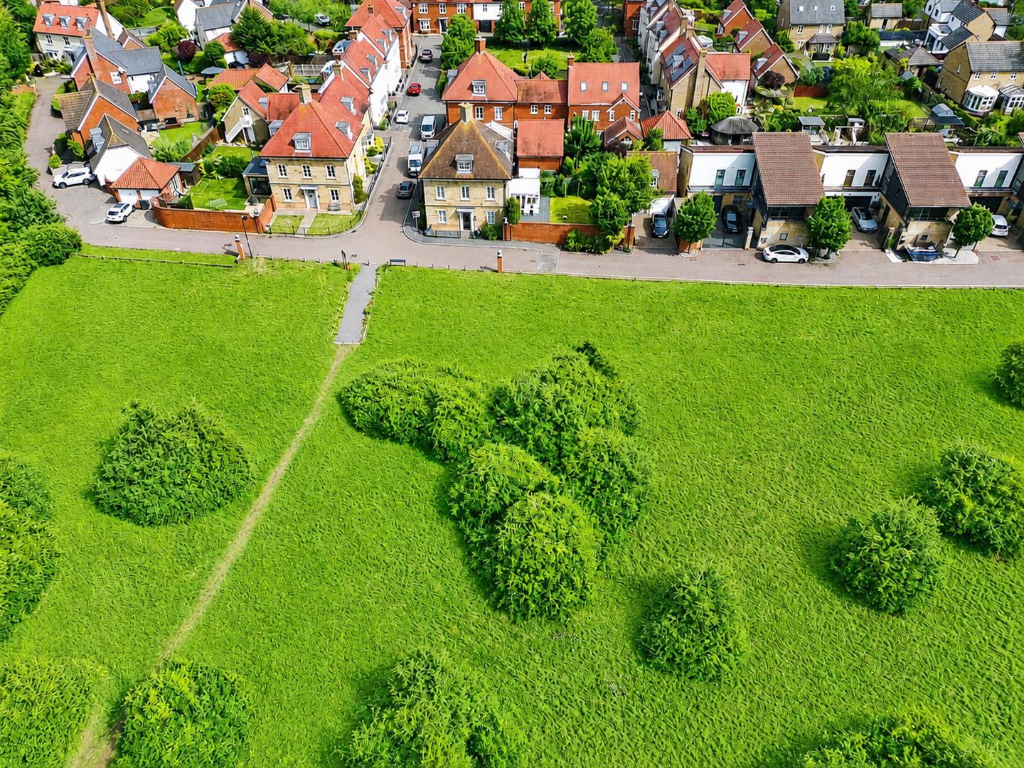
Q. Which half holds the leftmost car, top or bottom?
top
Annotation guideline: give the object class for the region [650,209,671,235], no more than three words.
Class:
car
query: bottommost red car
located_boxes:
[405,84,421,98]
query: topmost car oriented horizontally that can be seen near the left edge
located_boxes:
[50,165,94,187]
